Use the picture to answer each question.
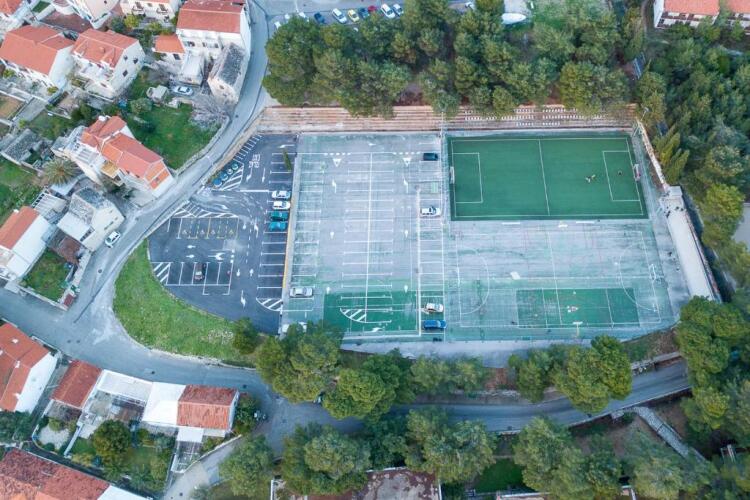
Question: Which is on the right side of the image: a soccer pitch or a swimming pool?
soccer pitch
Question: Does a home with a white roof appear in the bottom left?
Yes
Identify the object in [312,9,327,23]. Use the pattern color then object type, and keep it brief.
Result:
blue vehicle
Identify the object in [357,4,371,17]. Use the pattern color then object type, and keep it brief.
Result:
blue vehicle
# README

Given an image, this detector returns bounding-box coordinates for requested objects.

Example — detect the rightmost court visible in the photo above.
[444,219,679,338]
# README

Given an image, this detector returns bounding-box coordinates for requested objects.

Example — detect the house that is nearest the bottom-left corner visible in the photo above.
[0,447,109,500]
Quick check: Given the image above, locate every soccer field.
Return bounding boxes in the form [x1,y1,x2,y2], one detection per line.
[448,135,649,221]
